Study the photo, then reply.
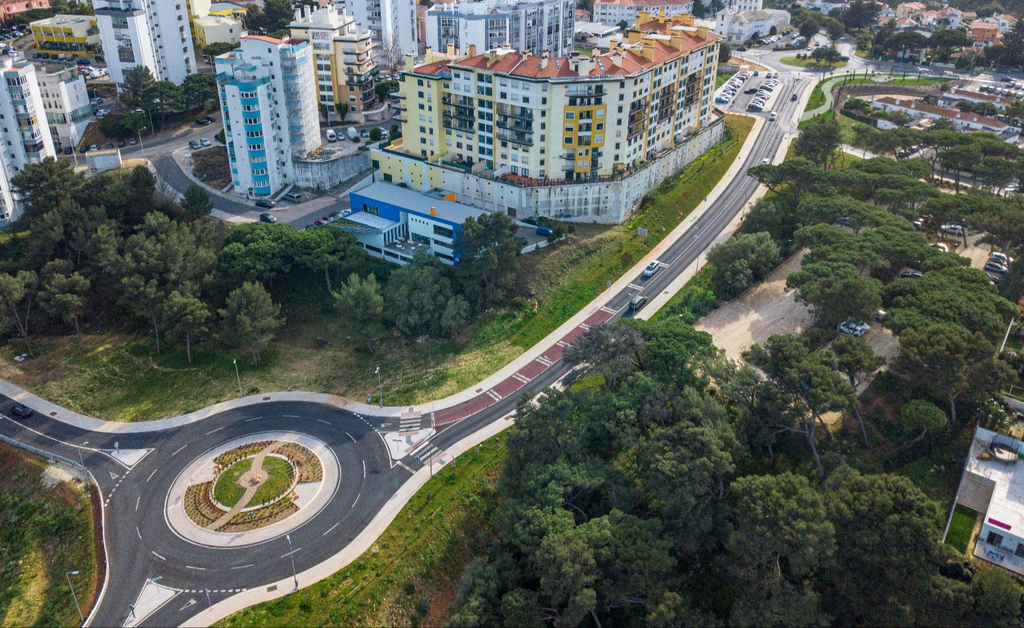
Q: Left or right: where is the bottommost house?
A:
right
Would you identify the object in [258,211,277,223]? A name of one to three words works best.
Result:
vehicle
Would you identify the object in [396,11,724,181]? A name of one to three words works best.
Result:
building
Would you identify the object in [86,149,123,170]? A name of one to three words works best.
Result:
building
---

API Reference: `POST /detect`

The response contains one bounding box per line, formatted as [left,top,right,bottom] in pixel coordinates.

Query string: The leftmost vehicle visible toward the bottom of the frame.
[9,405,34,420]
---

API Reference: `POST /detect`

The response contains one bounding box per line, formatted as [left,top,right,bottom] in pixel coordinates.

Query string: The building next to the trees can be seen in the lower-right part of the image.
[952,440,1024,574]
